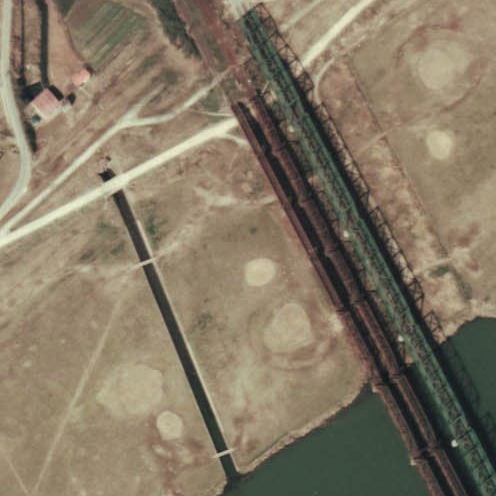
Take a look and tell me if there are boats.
No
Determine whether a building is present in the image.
Yes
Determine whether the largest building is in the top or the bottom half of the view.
top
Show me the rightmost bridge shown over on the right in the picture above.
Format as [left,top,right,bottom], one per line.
[239,15,496,496]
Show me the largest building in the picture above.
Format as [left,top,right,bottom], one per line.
[32,89,62,122]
